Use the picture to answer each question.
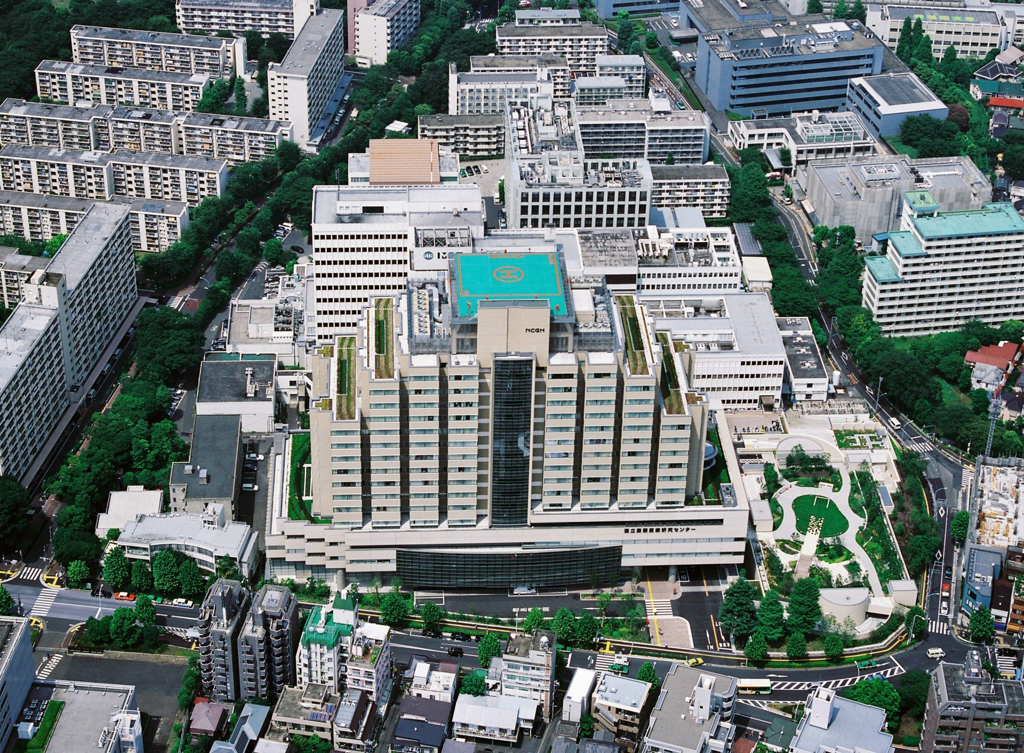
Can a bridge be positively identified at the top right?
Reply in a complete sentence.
No, I can find no bridge at the top right.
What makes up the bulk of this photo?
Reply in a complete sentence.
The bulk of the photo consists of buildings.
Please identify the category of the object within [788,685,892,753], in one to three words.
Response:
building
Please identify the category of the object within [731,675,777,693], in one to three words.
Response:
vehicle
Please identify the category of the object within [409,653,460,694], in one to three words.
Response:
house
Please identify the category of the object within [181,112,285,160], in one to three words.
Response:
building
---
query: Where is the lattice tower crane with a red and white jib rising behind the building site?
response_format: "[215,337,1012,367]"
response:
[987,287,1024,424]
